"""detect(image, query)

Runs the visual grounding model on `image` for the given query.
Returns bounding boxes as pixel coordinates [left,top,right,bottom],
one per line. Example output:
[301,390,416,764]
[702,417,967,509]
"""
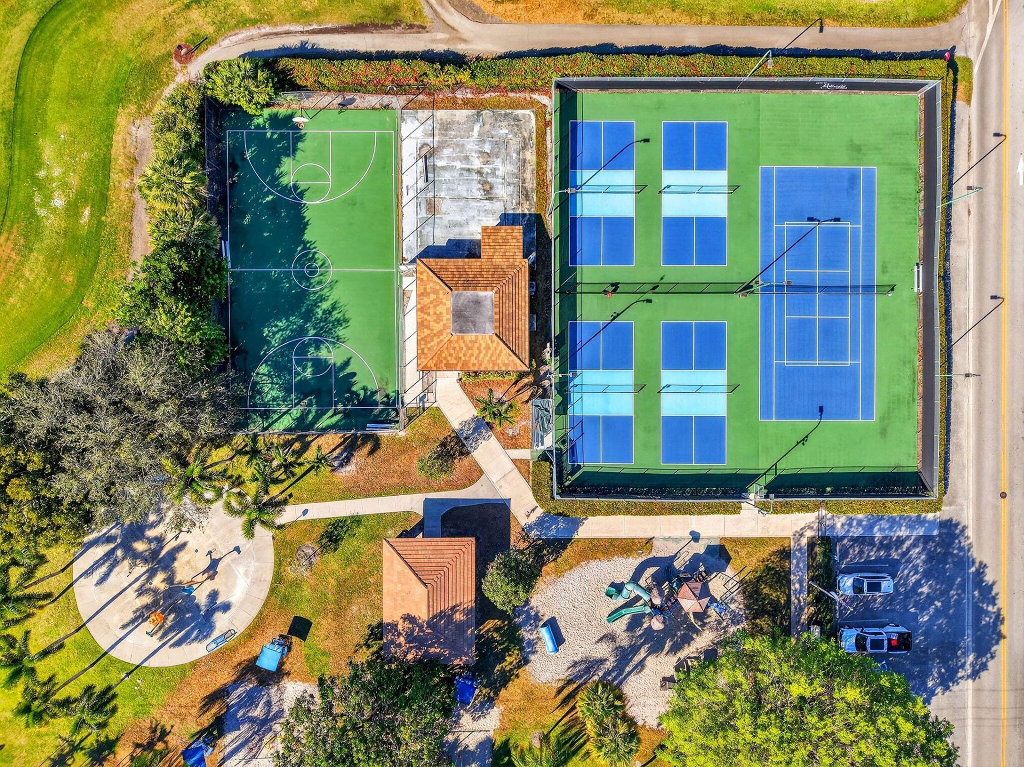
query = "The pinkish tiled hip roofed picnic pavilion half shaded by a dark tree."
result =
[382,533,476,666]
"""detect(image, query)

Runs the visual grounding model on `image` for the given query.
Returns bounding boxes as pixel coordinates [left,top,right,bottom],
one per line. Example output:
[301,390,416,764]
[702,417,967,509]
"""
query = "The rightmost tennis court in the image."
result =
[759,94,919,485]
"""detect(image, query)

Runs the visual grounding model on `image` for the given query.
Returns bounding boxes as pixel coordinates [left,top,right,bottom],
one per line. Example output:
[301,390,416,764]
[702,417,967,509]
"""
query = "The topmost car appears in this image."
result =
[836,572,891,598]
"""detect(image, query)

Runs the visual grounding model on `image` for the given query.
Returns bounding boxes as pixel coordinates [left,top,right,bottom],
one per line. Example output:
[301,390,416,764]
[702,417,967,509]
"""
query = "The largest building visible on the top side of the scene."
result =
[416,226,529,372]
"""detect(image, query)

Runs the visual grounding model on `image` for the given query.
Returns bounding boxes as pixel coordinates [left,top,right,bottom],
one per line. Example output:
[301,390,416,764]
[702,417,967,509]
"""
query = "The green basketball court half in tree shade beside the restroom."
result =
[220,108,400,431]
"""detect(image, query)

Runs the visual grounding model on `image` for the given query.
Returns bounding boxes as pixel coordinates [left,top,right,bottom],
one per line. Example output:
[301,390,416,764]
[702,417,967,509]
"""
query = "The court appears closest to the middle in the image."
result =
[568,321,634,464]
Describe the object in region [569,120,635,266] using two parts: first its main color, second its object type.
blue sports court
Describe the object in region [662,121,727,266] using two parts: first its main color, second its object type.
blue sports court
